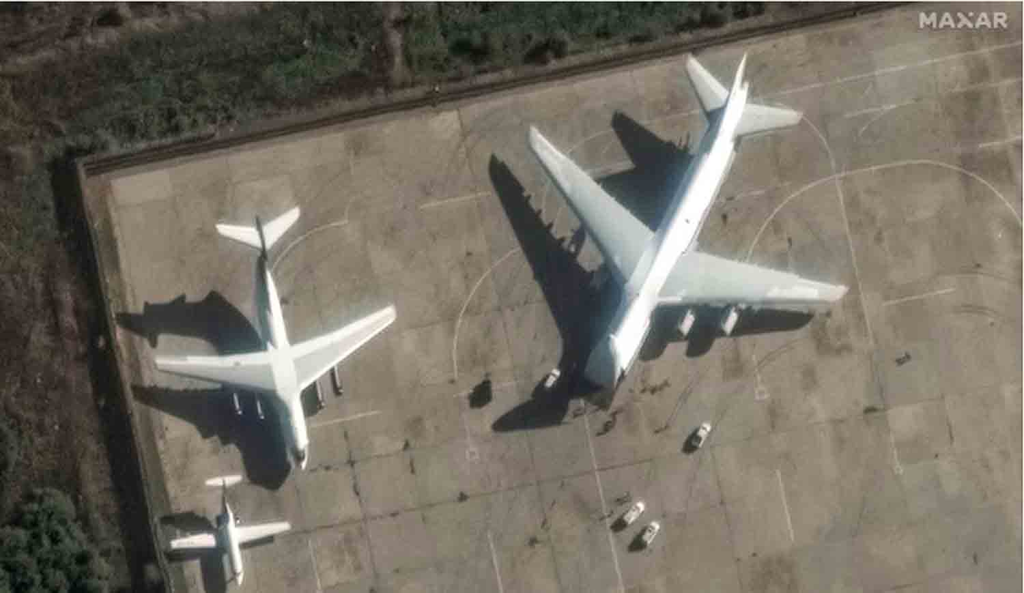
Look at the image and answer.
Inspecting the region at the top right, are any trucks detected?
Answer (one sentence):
No, no truck is visible at the top right.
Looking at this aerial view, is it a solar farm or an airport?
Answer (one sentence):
This image shows an airport.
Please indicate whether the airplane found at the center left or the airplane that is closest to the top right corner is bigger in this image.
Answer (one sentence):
The airplane that is closest to the top right corner takes up more space than the airplane found at the center left.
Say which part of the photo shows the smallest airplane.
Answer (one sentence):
Look in the bottom left portion of the view to spot the smallest airplane.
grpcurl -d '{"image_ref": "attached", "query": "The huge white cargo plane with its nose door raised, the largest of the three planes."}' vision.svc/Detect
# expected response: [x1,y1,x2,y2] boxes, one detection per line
[526,53,848,411]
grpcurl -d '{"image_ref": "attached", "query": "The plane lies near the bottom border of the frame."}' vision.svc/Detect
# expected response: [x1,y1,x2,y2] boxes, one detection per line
[171,475,292,586]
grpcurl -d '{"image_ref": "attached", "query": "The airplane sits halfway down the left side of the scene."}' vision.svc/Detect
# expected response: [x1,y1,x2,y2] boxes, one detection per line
[154,206,394,470]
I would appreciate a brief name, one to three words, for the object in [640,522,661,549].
truck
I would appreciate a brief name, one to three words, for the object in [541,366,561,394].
vehicle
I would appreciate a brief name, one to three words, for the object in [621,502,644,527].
truck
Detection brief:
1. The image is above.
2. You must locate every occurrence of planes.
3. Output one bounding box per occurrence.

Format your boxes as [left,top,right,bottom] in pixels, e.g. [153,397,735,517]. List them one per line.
[171,475,292,586]
[526,53,848,411]
[154,206,394,470]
